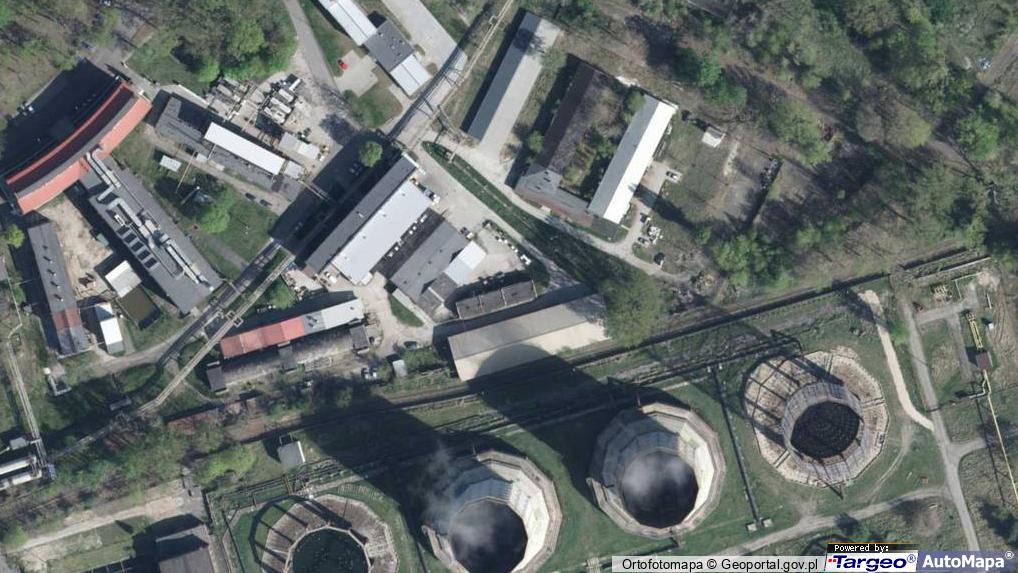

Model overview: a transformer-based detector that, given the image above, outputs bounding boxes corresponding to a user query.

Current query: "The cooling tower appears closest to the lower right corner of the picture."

[744,339,891,493]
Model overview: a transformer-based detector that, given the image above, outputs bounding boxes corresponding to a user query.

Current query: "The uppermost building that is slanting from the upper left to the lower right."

[331,0,432,96]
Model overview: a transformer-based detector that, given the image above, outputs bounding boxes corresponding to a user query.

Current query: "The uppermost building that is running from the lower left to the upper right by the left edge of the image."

[8,75,154,215]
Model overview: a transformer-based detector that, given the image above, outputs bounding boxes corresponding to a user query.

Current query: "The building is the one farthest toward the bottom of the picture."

[156,522,218,573]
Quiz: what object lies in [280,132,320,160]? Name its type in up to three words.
shed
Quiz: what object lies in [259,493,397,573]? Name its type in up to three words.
cooling tower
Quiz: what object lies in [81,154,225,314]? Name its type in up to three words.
building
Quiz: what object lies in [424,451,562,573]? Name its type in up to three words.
cooling tower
